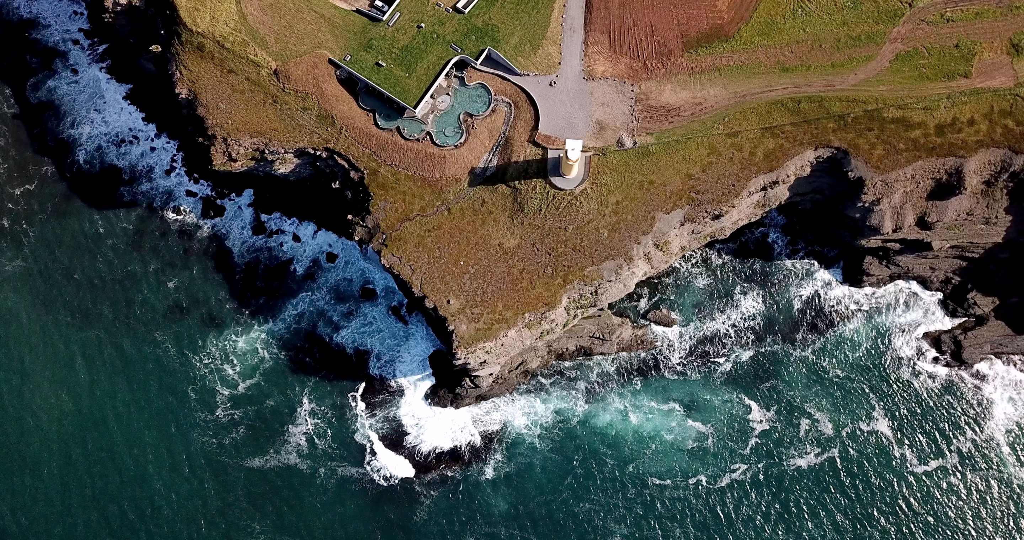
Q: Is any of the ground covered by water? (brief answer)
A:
Yes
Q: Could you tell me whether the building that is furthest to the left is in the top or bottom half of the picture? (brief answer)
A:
top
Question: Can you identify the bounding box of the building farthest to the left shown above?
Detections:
[329,47,520,115]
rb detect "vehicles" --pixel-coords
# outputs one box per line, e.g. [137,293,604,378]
[374,0,389,13]
[369,7,383,18]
